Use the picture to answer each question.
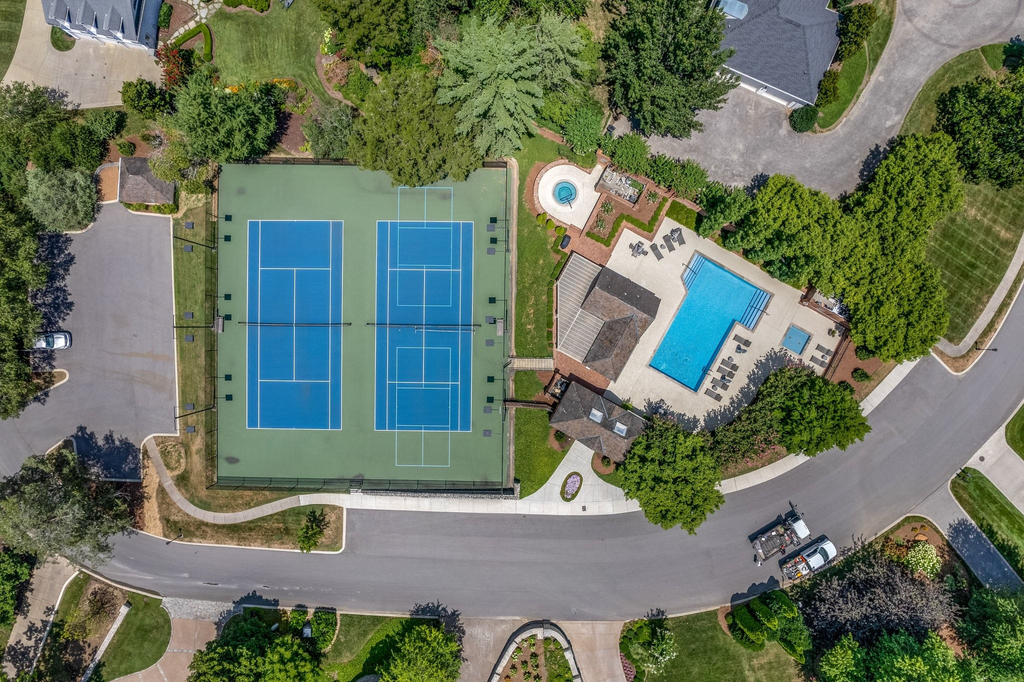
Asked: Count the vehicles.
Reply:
three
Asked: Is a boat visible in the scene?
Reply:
No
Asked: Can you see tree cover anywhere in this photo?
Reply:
Yes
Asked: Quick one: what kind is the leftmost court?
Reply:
tennis court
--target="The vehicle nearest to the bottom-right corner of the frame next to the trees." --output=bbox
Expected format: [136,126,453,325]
[780,540,835,582]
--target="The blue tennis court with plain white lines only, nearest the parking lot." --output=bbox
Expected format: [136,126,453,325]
[216,164,359,489]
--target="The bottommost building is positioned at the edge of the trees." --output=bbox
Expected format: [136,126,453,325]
[548,379,648,462]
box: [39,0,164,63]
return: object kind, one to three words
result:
house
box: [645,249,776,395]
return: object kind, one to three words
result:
swimming pool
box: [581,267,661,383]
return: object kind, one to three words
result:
building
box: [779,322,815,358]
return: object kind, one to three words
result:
swimming pool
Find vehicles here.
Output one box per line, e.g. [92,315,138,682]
[25,330,70,351]
[780,540,835,582]
[751,514,815,562]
